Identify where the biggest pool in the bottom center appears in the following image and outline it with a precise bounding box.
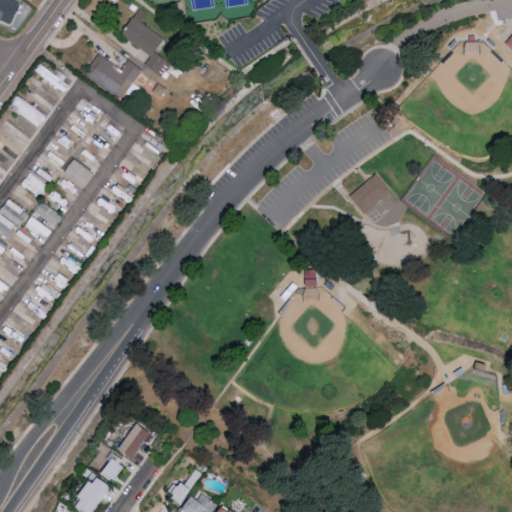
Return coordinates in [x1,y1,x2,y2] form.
[202,474,230,496]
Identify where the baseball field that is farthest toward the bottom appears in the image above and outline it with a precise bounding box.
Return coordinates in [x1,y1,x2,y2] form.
[361,386,512,512]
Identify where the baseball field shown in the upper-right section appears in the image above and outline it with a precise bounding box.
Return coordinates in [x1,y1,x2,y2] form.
[400,40,512,159]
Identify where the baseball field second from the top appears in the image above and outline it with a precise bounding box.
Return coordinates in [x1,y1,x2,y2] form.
[236,291,398,411]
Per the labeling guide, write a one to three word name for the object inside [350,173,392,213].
building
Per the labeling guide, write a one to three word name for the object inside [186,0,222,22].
tennis court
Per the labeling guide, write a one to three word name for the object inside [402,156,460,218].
basketball court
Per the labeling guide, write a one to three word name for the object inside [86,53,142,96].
house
